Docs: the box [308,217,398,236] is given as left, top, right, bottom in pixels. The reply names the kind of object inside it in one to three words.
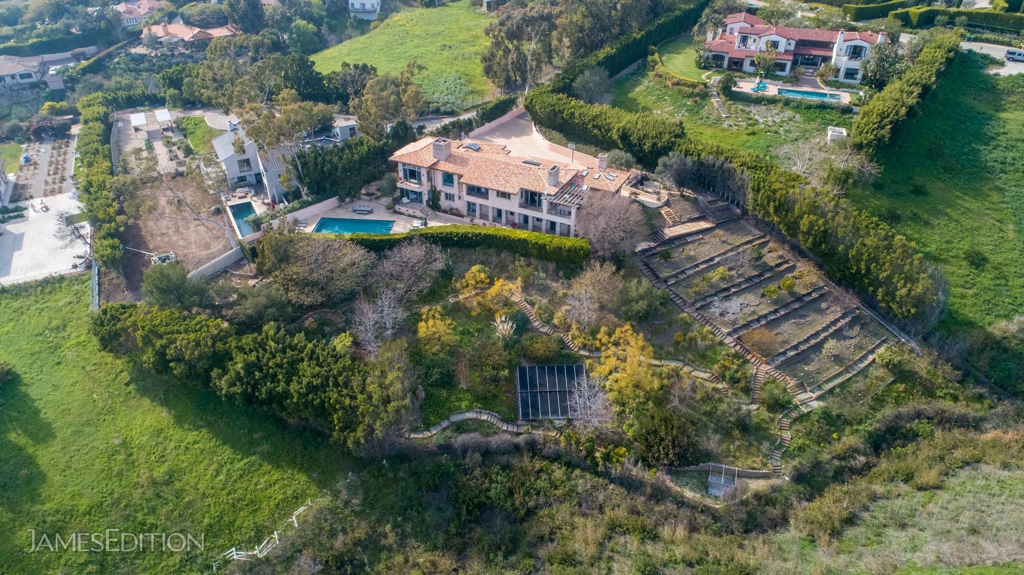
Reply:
swimming pool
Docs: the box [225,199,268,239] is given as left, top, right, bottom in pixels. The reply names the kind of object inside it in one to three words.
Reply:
swimming pool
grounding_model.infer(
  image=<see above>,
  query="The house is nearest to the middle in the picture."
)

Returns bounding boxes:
[387,131,632,237]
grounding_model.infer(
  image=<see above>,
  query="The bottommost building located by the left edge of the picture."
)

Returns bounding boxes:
[0,164,31,208]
